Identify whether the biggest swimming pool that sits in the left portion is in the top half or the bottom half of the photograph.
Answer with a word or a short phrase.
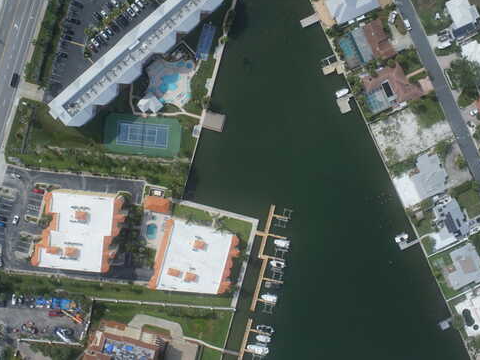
top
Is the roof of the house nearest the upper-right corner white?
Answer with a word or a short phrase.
Yes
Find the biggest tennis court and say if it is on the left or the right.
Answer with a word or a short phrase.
left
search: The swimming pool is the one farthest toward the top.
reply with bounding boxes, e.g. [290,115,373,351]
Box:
[339,36,356,59]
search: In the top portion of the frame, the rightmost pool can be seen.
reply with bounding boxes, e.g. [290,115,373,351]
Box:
[369,95,389,112]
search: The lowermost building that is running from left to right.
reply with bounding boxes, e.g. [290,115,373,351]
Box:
[88,327,170,360]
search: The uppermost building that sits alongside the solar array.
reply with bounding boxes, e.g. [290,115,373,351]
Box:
[411,153,448,200]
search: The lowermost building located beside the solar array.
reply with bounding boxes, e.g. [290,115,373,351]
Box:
[447,243,480,291]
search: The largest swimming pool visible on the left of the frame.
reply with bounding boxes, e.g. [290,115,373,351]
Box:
[156,69,184,96]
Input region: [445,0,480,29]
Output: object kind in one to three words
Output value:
house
